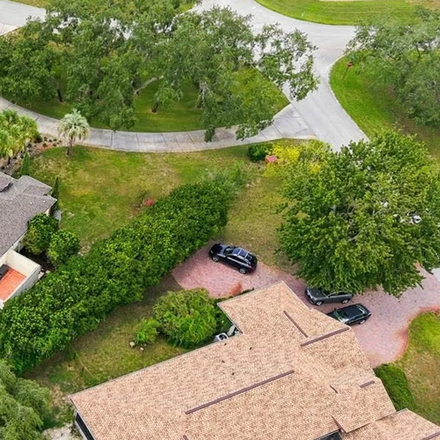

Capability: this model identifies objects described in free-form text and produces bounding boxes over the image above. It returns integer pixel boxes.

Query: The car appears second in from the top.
[305,282,355,305]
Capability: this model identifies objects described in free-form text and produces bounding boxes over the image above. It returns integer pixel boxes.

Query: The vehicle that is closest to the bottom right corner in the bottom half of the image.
[322,301,371,326]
